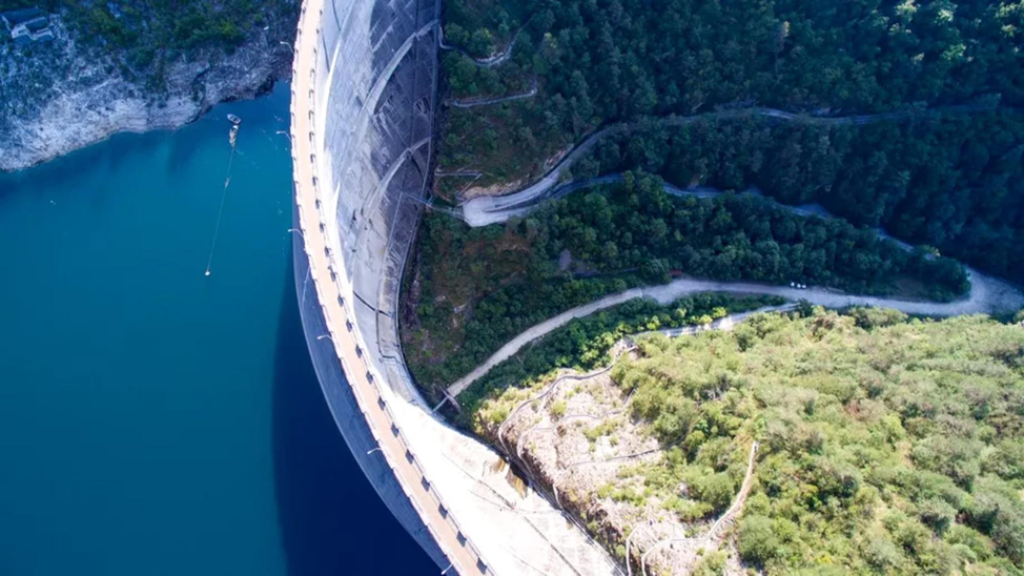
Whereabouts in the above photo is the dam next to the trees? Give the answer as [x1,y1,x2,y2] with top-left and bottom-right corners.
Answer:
[288,0,633,576]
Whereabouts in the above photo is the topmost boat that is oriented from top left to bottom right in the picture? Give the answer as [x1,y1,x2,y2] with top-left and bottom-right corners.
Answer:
[228,114,242,127]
